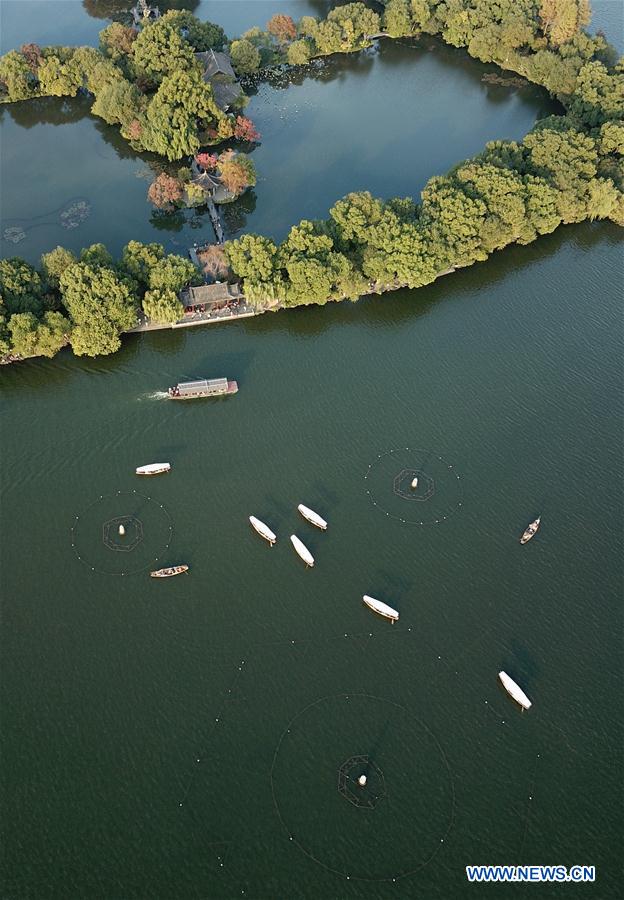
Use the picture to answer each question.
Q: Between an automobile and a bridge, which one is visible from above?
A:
bridge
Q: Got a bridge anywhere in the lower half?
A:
No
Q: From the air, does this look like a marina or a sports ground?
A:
marina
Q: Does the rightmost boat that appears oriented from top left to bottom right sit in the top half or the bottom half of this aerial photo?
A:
bottom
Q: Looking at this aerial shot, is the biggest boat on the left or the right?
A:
left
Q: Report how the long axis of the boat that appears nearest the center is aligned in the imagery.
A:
on a diagonal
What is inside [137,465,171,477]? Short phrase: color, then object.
white boat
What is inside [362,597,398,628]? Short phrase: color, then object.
white boat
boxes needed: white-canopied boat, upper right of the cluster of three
[298,505,328,536]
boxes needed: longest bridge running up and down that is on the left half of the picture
[188,185,226,266]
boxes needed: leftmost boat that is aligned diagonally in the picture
[249,517,277,550]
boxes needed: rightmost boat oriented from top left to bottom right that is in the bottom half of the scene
[497,673,531,714]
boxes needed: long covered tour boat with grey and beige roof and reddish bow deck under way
[168,377,238,398]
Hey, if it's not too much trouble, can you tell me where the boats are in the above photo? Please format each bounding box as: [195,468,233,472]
[149,566,190,577]
[362,597,398,628]
[168,377,238,398]
[520,513,541,545]
[497,673,531,714]
[137,465,171,477]
[249,517,277,550]
[298,505,328,536]
[290,535,315,572]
